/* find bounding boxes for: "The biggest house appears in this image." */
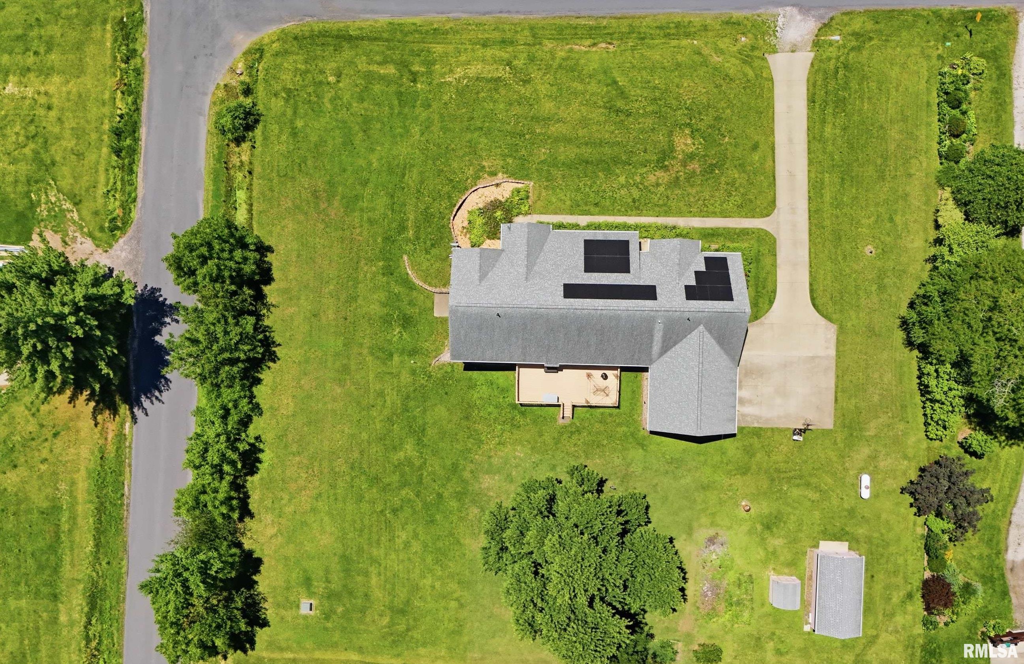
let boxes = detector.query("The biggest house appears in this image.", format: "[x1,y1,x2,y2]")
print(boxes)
[448,221,751,438]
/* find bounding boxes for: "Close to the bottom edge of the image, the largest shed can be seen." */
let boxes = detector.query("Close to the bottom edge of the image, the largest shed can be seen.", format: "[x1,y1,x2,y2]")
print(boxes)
[808,549,866,639]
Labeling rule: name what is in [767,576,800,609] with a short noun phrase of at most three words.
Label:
shed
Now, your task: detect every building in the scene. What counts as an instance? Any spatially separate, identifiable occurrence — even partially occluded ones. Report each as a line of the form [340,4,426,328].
[808,549,866,639]
[448,221,751,438]
[767,576,800,609]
